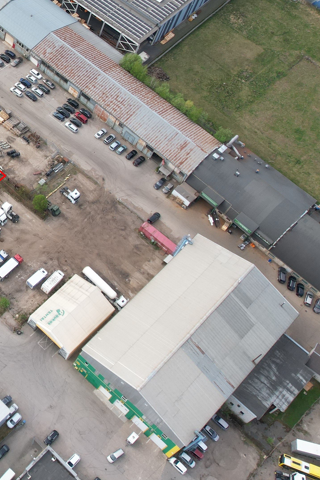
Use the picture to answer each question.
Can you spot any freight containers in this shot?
Yes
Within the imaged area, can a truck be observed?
Yes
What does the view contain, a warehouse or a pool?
warehouse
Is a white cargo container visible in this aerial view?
No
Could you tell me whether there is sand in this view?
No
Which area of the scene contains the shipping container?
center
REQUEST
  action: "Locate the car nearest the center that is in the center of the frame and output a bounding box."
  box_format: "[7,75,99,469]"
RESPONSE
[146,212,160,225]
